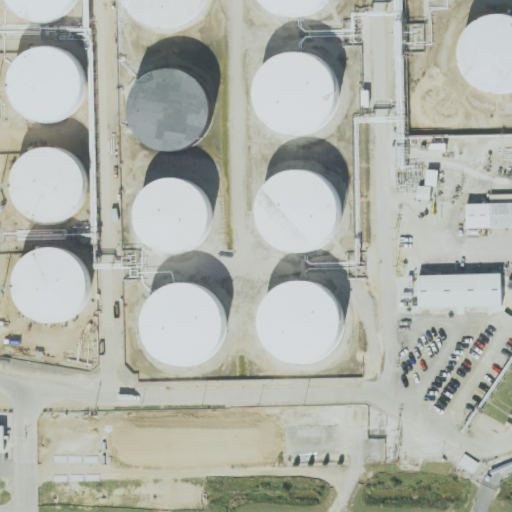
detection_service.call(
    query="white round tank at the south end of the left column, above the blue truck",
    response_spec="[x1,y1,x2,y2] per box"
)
[8,246,94,326]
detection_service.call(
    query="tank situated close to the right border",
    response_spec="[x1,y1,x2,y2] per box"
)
[454,10,512,98]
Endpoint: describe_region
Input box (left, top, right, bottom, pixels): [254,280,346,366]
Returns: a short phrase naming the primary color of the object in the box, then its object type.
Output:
white storage tank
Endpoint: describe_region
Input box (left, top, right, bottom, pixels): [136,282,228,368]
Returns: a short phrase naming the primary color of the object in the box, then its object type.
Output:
white storage tank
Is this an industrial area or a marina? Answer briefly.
industrial area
